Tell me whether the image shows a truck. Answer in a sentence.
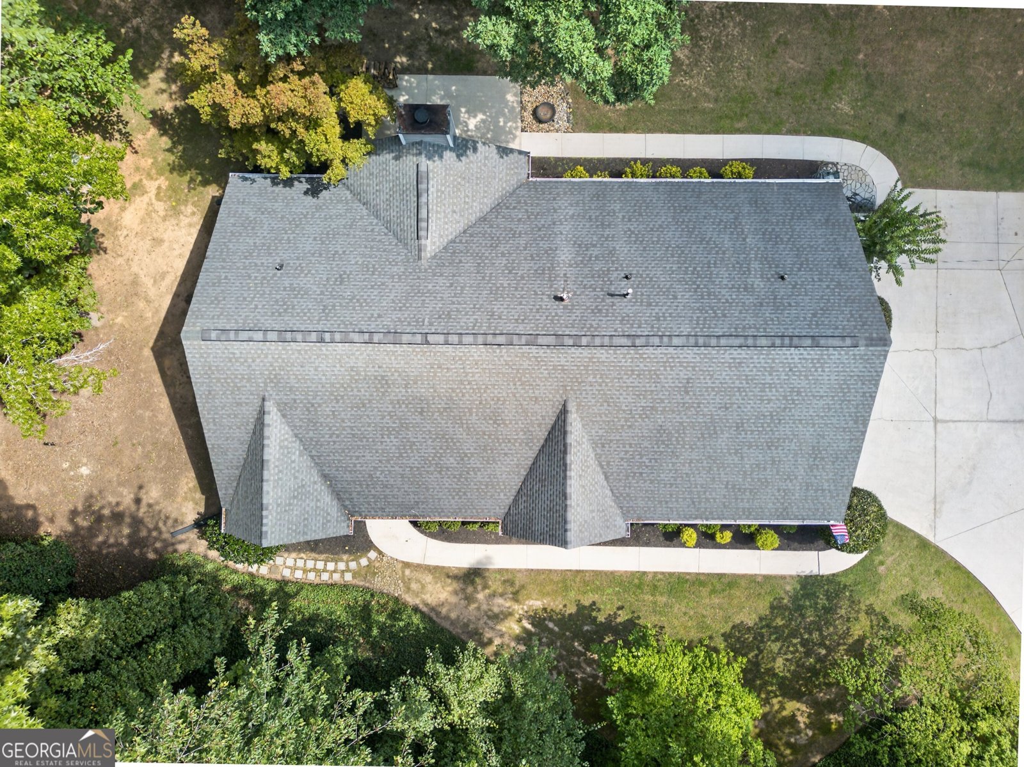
No, I find no truck anywhere in the image.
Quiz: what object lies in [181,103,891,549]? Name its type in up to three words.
house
